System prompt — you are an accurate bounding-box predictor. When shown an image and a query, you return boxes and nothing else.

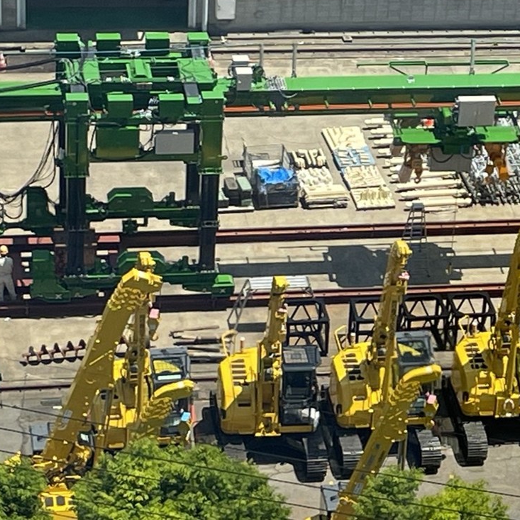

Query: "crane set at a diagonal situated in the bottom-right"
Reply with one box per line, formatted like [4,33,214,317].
[313,364,452,520]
